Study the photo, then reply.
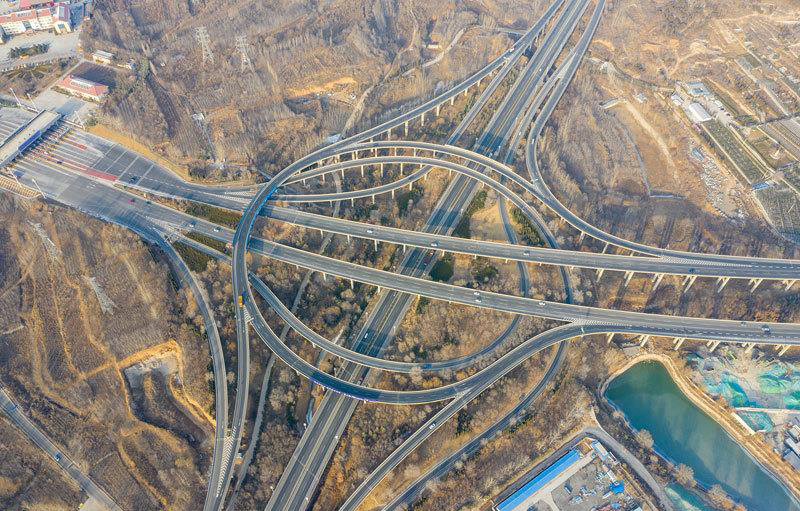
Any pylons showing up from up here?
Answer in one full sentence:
Yes, I can see a pylon in this picture.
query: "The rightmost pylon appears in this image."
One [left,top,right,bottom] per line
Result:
[235,33,252,71]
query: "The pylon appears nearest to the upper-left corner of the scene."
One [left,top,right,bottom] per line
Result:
[195,26,215,67]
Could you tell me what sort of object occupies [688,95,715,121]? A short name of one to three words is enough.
shed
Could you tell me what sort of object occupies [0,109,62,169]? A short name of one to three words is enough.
toll station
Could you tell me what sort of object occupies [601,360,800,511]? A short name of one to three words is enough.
pond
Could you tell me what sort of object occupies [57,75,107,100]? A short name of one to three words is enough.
building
